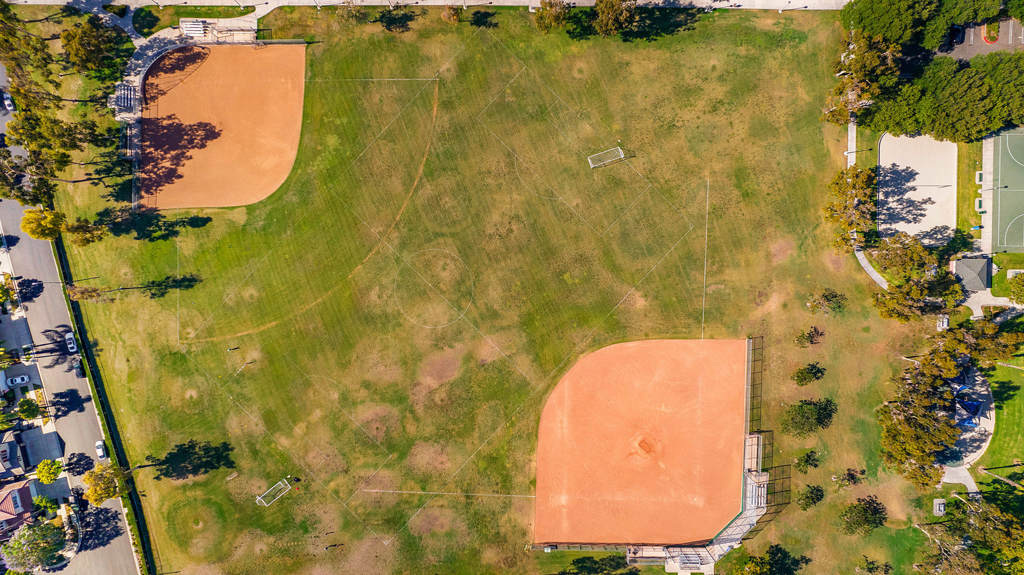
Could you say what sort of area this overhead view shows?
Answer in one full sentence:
It's a sports ground.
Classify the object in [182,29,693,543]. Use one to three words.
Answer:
soccer field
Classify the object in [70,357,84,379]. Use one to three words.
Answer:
car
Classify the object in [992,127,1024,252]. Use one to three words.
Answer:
basketball court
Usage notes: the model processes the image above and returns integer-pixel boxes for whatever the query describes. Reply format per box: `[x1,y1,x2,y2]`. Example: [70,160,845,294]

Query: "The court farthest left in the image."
[877,130,959,247]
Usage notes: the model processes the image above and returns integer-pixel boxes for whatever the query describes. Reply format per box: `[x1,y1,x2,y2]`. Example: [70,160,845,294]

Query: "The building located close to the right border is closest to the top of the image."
[950,259,987,290]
